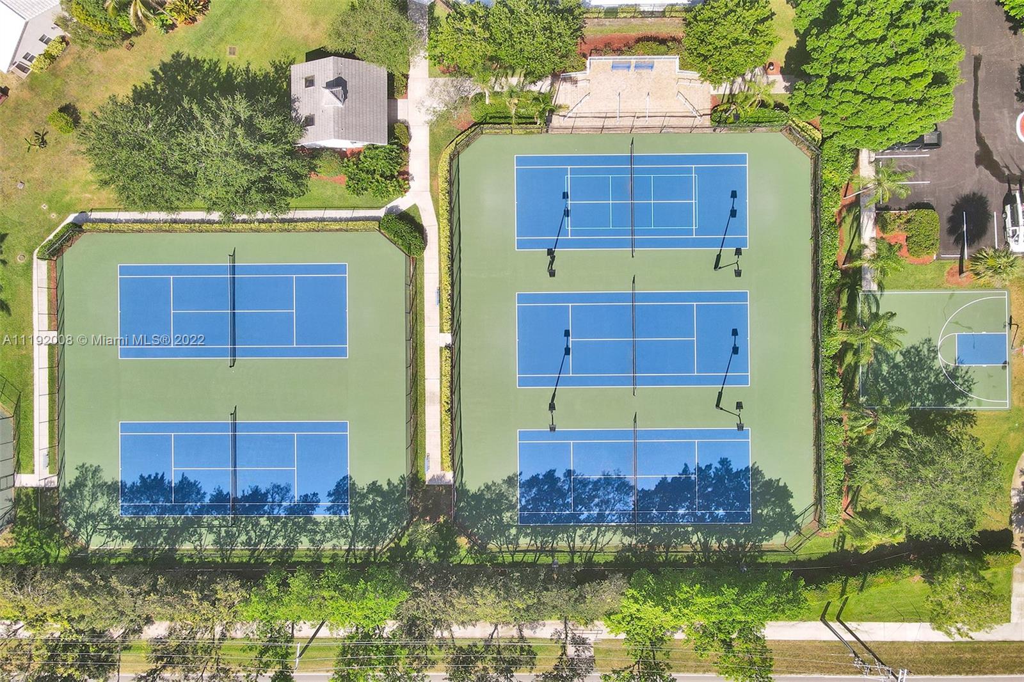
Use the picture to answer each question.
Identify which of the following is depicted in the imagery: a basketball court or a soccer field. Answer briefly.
basketball court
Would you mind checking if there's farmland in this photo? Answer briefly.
No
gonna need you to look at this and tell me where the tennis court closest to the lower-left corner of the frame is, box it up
[120,421,349,517]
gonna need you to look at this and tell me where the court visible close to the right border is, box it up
[856,287,1013,411]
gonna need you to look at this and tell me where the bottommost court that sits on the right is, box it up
[518,428,751,525]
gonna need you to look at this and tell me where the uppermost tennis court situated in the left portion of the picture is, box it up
[119,263,348,359]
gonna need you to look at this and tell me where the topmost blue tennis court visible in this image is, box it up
[516,153,748,250]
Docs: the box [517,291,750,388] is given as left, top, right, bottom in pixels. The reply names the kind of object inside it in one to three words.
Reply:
tennis court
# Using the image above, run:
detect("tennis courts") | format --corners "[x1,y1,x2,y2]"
[516,153,748,250]
[119,263,348,359]
[120,421,349,517]
[518,428,751,525]
[517,291,750,388]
